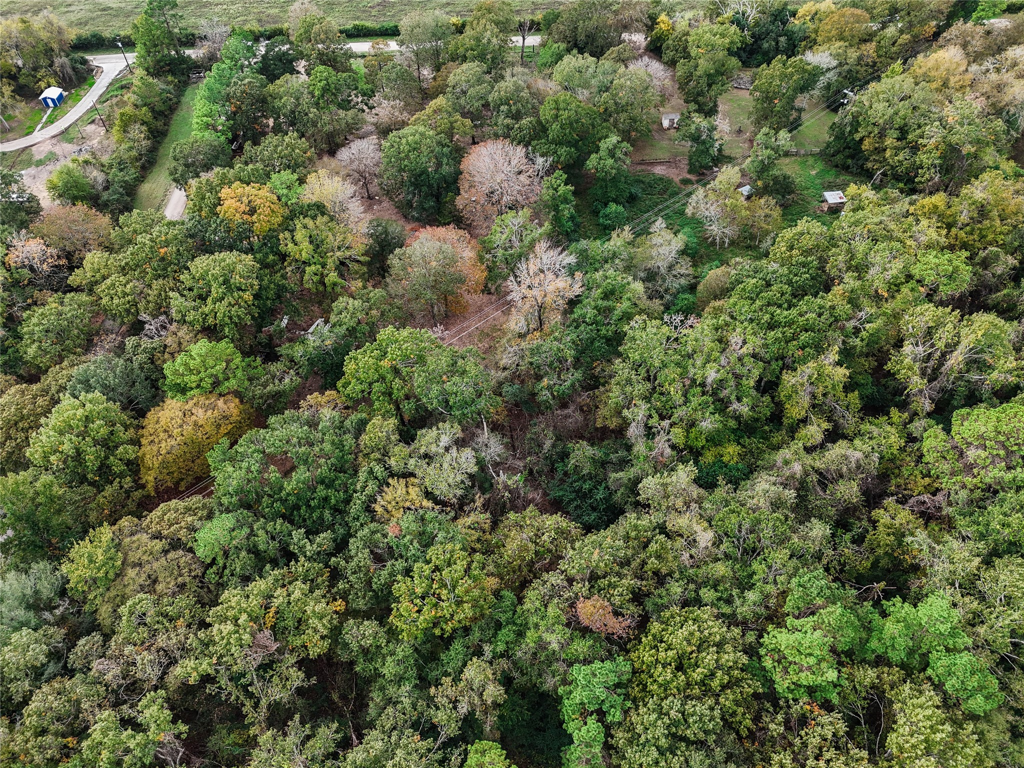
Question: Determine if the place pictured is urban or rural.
rural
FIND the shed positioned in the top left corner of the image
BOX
[39,83,66,107]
